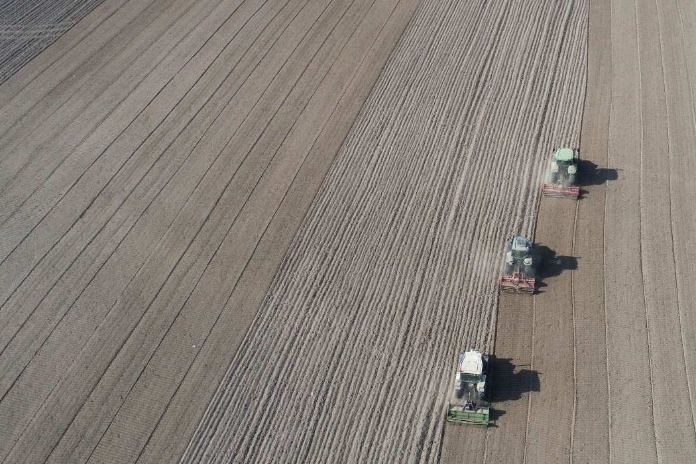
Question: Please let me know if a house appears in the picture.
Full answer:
No, I find no house anywhere in the image.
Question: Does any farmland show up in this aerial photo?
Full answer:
Yes, farmland shows up in the scene.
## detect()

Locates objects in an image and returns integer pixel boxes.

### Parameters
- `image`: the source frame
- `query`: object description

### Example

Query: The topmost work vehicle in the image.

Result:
[550,147,580,183]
